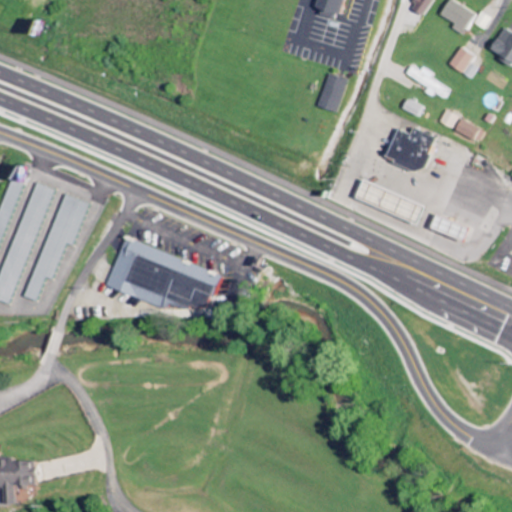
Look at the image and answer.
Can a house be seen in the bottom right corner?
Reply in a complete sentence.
No, looking in the bottom right corner, there is no house.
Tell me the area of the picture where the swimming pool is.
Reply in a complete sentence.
The swimming pool sits in the top right section of the image.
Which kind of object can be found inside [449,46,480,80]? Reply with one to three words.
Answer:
house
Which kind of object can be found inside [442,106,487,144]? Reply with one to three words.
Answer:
house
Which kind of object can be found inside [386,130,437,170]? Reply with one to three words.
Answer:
building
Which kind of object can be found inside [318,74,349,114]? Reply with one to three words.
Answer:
shed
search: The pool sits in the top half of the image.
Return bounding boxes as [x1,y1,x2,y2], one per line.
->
[483,92,504,116]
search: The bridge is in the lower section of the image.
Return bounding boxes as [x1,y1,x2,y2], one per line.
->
[42,318,70,364]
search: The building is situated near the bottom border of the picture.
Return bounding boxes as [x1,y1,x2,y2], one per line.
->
[0,456,36,502]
